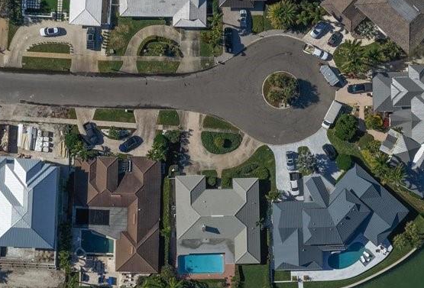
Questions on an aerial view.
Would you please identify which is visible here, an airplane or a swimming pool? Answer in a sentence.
I can see a swimming pool in this picture.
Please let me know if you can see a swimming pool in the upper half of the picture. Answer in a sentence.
No, no swimming pool appears in the upper half of the picture.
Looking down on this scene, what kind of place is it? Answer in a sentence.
The picture captures a residential area.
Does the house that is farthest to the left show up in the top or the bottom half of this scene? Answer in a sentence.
The bottom half of the photo is where the house that is farthest to the left is.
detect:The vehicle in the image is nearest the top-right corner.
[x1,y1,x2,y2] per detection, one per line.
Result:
[328,29,343,47]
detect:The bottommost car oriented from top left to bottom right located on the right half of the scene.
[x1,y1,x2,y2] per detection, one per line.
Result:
[321,142,337,161]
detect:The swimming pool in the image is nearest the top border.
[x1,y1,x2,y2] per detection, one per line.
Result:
[80,228,115,255]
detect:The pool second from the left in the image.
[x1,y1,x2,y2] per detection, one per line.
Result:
[178,255,225,275]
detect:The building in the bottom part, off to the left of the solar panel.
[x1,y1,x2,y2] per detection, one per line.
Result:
[0,155,62,249]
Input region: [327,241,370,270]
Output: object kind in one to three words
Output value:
swimming pool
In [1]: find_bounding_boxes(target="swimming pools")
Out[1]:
[80,228,115,255]
[178,255,225,275]
[327,241,370,270]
